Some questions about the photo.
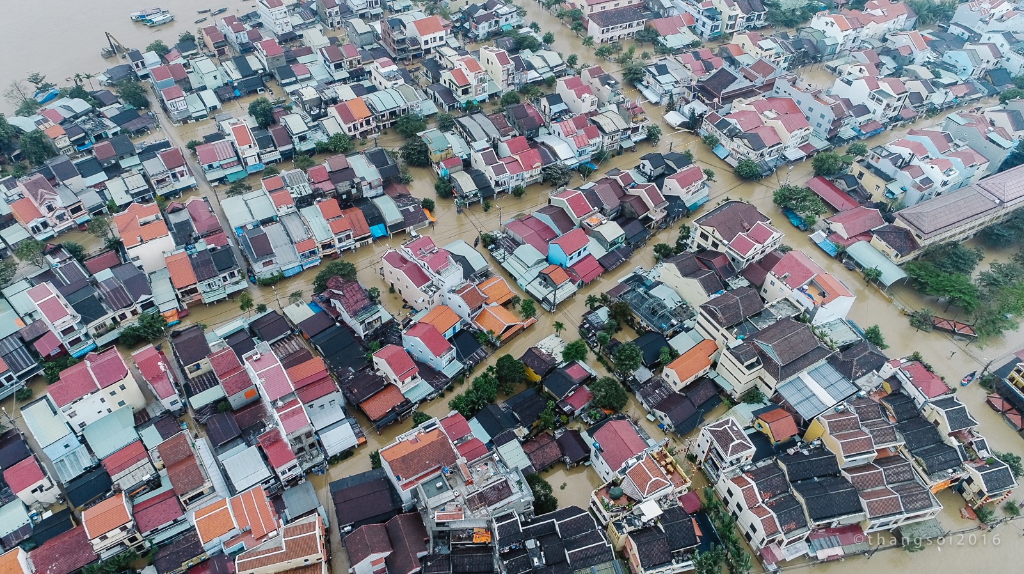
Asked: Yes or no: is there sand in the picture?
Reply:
No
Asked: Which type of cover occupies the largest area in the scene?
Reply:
buildings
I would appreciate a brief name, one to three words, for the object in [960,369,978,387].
boat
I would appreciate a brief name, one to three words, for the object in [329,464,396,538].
shed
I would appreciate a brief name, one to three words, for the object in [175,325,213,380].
house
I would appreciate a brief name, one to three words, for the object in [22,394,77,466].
house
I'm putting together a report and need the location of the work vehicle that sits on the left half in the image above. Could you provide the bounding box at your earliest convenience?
[106,32,134,57]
